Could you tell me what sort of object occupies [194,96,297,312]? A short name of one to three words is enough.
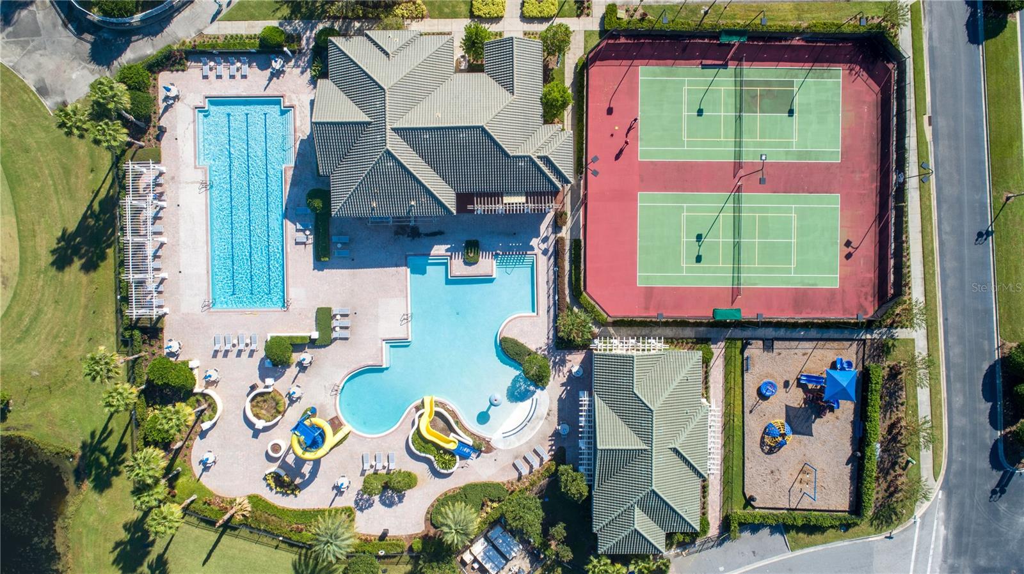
swimming pool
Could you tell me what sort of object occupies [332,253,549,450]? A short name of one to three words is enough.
swimming pool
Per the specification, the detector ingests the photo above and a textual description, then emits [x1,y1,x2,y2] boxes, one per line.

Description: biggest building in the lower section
[593,350,708,555]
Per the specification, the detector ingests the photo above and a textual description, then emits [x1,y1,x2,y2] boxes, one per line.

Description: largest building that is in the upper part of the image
[308,29,573,216]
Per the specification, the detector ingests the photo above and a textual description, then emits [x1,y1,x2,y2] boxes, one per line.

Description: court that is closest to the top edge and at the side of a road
[588,39,895,177]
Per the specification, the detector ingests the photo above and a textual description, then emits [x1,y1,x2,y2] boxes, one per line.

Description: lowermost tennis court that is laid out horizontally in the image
[587,177,893,318]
